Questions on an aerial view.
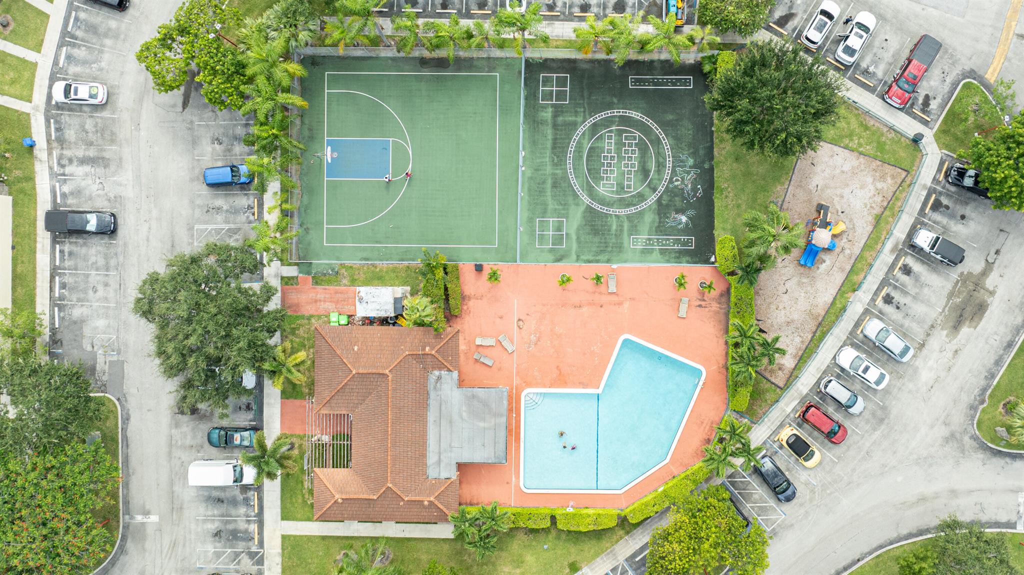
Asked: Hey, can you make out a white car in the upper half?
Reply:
Yes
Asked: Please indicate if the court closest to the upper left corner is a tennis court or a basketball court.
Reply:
basketball court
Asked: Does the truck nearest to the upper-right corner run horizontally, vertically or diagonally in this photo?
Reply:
diagonally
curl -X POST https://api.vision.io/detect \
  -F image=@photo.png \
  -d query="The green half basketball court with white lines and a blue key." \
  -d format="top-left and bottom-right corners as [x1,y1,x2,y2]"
[298,56,522,275]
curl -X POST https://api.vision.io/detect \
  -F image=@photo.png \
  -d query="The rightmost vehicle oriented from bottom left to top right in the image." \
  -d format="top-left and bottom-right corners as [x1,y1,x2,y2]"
[882,33,944,110]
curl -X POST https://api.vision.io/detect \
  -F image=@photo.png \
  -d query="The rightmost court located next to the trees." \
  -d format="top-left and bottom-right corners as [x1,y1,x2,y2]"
[520,57,717,265]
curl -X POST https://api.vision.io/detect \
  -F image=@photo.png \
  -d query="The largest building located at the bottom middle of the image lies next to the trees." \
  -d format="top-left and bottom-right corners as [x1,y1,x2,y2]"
[313,325,508,522]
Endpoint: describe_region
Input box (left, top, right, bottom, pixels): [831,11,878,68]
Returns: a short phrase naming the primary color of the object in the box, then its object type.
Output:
white car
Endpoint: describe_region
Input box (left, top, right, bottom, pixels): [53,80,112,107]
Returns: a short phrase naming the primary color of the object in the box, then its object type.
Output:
white car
